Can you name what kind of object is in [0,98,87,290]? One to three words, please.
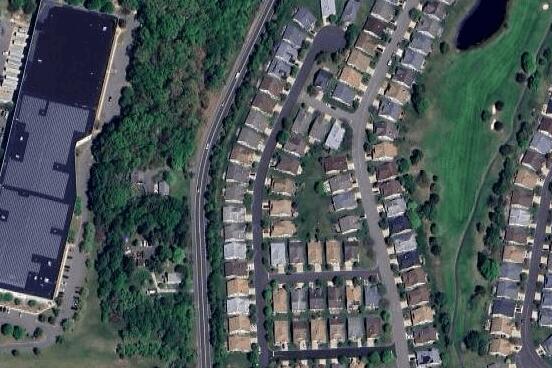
solar array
